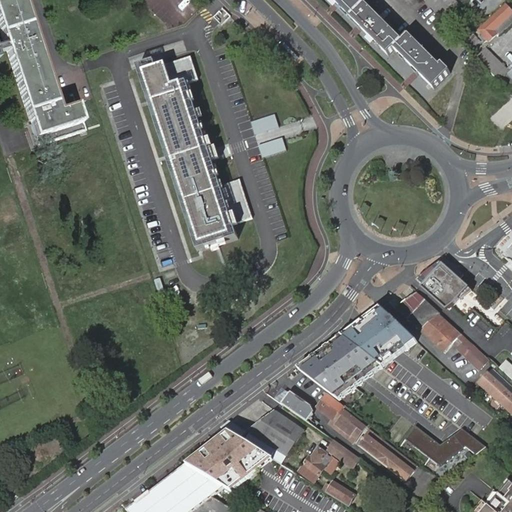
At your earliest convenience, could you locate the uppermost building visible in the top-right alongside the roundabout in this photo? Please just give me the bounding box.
[332,0,450,93]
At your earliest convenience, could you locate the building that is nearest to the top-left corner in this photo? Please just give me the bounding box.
[0,0,92,148]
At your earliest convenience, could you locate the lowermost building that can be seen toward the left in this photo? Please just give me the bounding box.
[120,461,234,512]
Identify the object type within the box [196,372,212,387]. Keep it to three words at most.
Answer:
vehicle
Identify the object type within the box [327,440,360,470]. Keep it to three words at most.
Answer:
house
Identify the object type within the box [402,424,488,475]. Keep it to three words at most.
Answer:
building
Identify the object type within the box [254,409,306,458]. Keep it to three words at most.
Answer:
barn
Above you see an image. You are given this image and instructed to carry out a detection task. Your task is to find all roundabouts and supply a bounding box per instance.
[330,125,468,266]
